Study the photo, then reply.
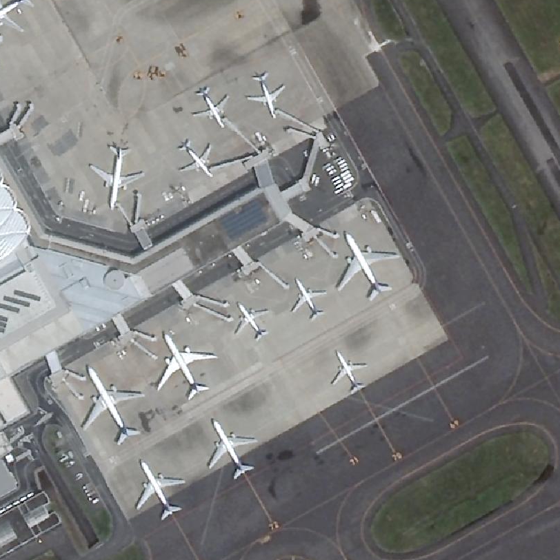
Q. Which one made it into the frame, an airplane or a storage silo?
airplane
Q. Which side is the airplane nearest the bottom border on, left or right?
left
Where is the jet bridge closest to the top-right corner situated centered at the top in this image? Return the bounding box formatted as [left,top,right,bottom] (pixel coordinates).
[275,109,330,148]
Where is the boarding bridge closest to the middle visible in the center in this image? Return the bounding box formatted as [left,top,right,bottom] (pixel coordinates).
[234,247,290,291]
